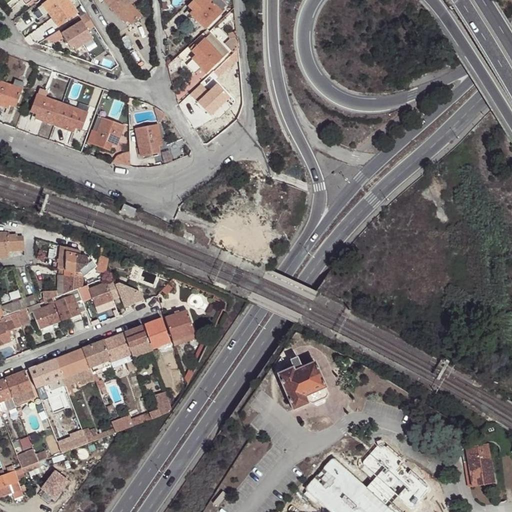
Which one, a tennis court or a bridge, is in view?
bridge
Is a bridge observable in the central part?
Yes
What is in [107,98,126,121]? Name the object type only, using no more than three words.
swimming pool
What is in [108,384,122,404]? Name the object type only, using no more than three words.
swimming pool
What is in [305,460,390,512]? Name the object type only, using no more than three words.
building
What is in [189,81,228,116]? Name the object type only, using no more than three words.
house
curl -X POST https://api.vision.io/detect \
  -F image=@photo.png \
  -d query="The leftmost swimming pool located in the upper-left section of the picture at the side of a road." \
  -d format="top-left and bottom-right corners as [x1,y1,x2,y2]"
[68,81,83,100]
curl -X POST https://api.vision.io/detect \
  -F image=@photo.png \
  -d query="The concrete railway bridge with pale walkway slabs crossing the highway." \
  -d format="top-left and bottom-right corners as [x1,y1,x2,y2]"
[238,258,327,330]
